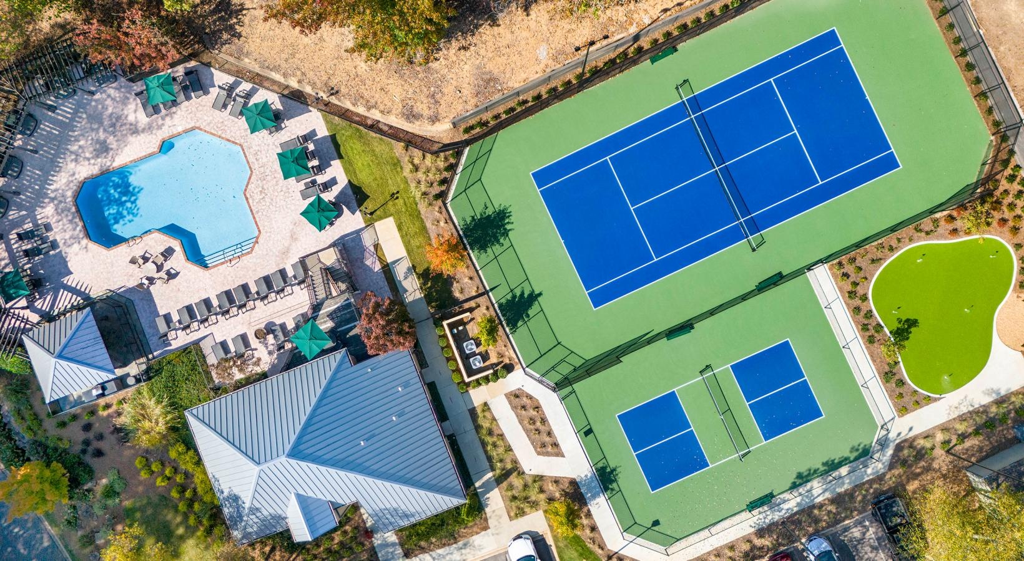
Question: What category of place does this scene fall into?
sports ground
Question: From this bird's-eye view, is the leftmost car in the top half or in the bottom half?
bottom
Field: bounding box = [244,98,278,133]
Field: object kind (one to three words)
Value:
umbrella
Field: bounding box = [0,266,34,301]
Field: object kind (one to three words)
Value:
umbrella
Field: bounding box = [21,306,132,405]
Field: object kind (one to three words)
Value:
building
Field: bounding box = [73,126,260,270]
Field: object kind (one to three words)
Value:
swimming pool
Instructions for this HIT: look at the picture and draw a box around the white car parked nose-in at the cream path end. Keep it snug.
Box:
[510,531,542,561]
